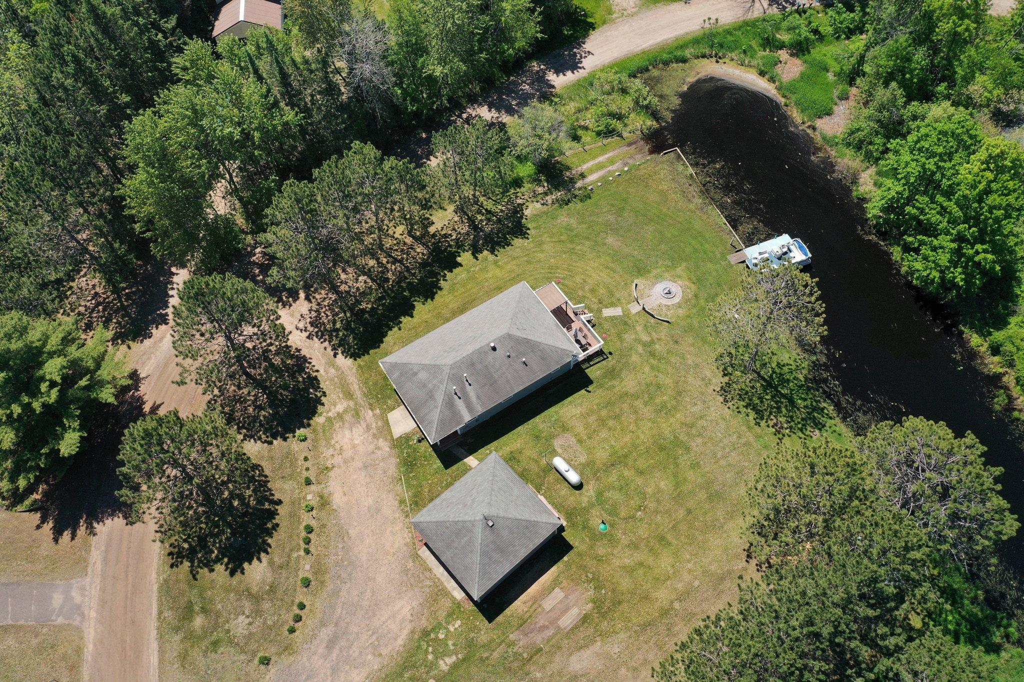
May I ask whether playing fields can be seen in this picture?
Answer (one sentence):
No, there is no playing field in the image.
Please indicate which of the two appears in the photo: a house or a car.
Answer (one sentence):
The one in the frame is a house.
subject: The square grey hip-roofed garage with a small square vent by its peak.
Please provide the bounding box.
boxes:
[410,451,562,605]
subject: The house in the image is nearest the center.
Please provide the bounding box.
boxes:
[377,280,583,462]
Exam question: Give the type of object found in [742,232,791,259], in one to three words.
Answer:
pier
